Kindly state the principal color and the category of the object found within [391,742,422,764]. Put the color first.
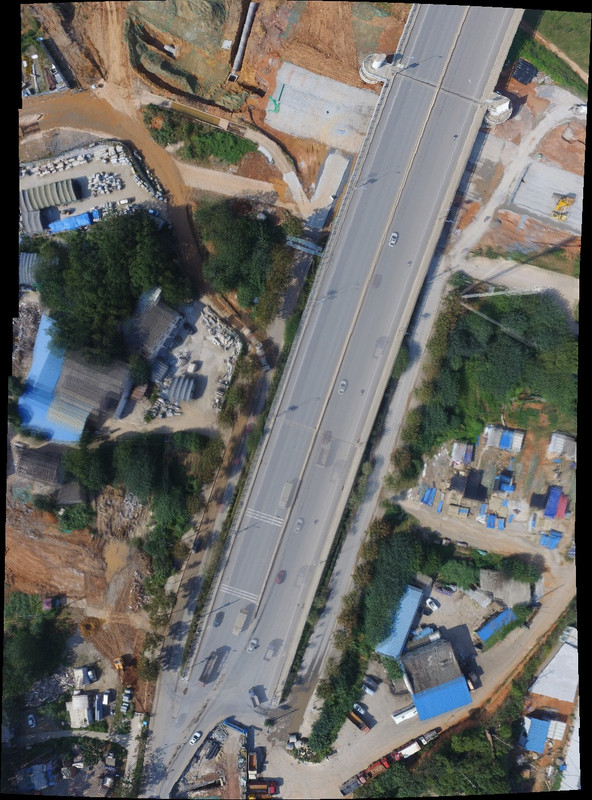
white truck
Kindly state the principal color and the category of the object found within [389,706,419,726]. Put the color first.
white vehicle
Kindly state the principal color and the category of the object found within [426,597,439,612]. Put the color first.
white vehicle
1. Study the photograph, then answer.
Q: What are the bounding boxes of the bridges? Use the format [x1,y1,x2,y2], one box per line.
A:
[188,0,526,702]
